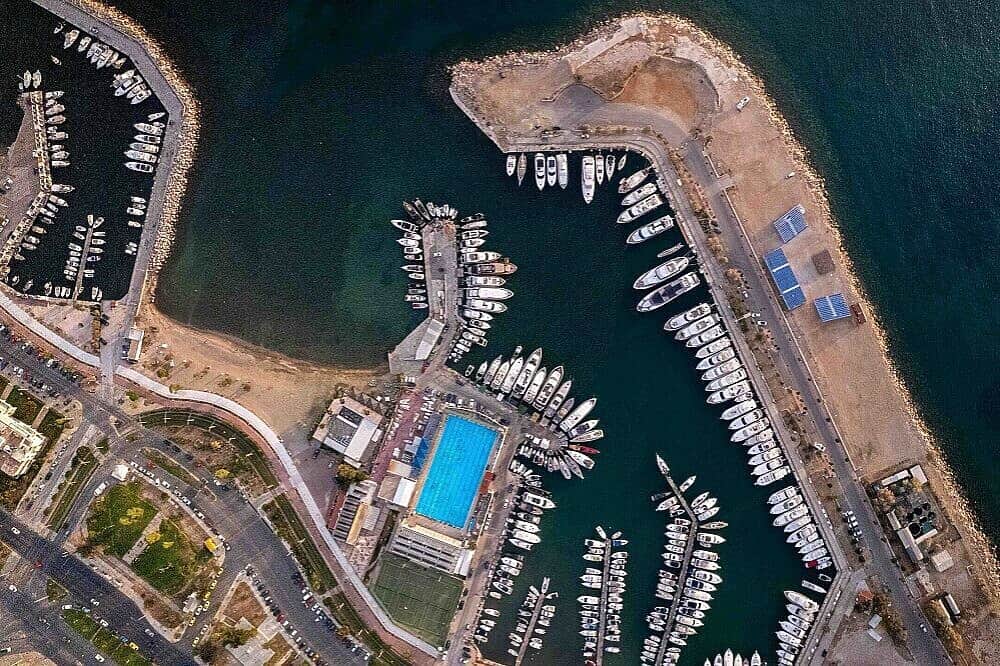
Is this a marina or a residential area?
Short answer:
marina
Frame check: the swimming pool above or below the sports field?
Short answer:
above it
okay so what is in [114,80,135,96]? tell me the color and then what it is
white boat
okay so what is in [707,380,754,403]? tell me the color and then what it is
white boat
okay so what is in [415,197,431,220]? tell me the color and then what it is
gray boat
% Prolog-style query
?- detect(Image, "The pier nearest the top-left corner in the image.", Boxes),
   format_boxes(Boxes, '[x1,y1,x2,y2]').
[0,92,40,245]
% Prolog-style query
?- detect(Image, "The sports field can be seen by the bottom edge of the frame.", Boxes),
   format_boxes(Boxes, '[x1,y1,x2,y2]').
[367,551,466,654]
